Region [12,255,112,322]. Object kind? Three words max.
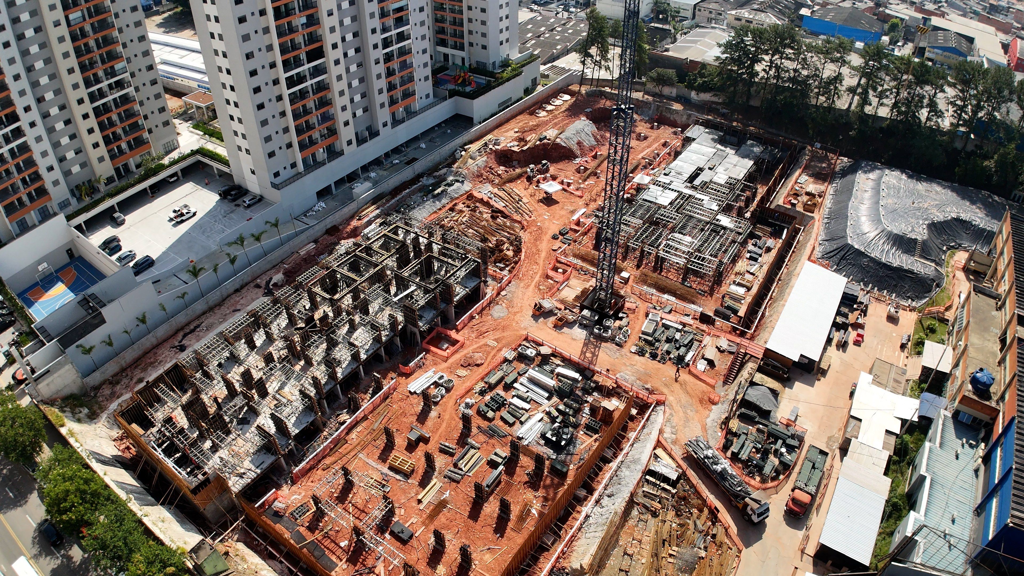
sports court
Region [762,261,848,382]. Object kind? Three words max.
shed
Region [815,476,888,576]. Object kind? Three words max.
shed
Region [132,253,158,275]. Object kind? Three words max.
car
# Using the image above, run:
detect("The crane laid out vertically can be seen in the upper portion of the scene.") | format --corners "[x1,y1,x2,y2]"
[580,0,645,327]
